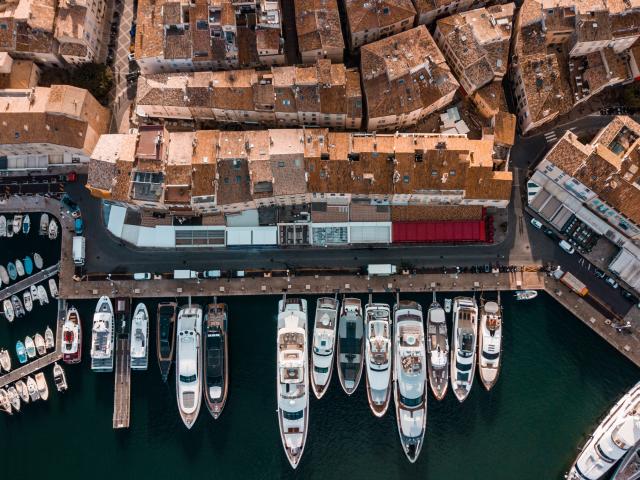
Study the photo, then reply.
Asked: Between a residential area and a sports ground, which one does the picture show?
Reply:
residential area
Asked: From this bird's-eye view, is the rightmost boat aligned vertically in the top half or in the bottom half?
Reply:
bottom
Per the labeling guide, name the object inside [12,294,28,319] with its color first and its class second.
gray boat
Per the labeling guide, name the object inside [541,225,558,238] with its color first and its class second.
black vehicle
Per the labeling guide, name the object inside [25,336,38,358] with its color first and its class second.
white boat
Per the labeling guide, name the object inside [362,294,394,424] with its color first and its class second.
white boat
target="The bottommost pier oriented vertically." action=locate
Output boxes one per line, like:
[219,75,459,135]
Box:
[112,341,132,429]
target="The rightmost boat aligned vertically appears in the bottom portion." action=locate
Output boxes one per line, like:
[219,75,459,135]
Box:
[474,292,505,398]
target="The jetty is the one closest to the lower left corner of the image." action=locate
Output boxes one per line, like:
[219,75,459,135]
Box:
[0,348,62,386]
